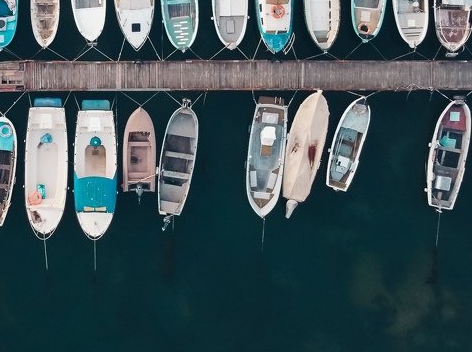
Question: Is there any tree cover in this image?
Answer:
No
